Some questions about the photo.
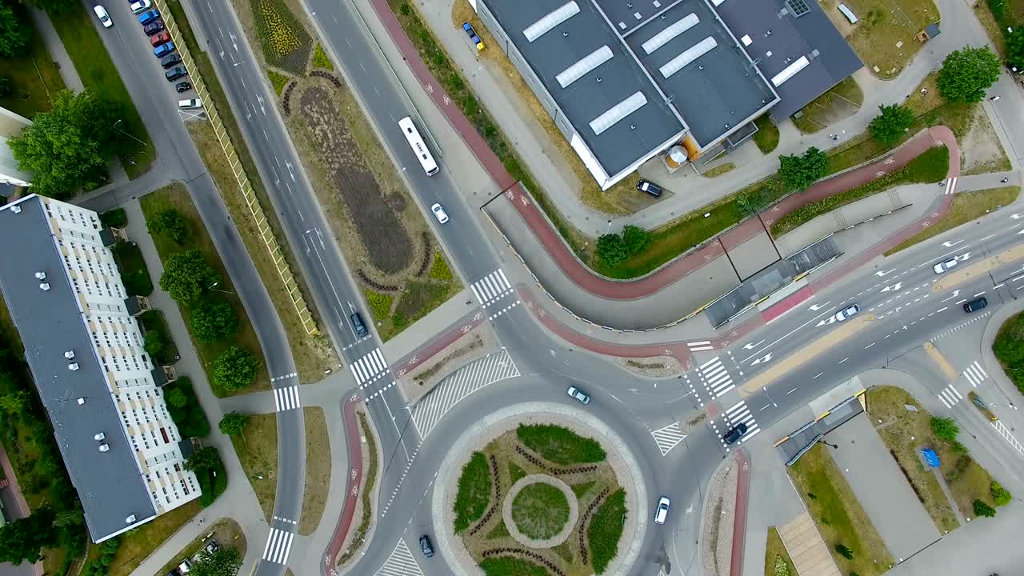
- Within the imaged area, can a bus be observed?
Yes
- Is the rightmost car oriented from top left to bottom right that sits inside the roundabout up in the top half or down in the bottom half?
bottom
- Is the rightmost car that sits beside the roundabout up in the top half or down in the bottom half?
bottom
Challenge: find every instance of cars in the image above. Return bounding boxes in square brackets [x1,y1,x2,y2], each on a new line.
[835,303,861,321]
[173,80,192,92]
[138,10,160,24]
[127,0,142,6]
[430,201,449,225]
[961,297,989,313]
[350,310,366,337]
[129,0,152,14]
[142,21,165,35]
[148,32,171,46]
[636,181,663,197]
[159,54,181,68]
[932,256,959,273]
[176,97,202,109]
[152,43,176,57]
[722,422,747,445]
[173,556,195,576]
[464,24,482,48]
[94,3,111,28]
[163,66,187,80]
[655,498,670,523]
[566,385,591,405]
[418,533,434,559]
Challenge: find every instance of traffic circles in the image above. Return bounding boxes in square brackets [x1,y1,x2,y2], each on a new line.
[374,348,714,576]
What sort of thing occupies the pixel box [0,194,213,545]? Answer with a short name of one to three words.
building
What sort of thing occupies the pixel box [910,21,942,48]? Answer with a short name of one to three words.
shed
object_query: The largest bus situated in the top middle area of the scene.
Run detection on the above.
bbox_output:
[395,117,443,179]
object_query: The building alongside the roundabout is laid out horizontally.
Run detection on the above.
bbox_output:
[465,0,865,190]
